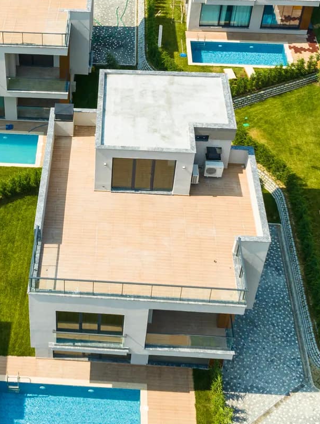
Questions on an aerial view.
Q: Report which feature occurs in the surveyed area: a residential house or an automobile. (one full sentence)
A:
Looking from above, you can make out a residential house.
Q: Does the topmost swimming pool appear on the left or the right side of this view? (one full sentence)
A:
The topmost swimming pool sits on the right side.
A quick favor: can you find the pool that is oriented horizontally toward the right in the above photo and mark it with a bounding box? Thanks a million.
[185,27,318,66]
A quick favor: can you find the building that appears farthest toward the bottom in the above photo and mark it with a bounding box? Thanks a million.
[28,68,272,386]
